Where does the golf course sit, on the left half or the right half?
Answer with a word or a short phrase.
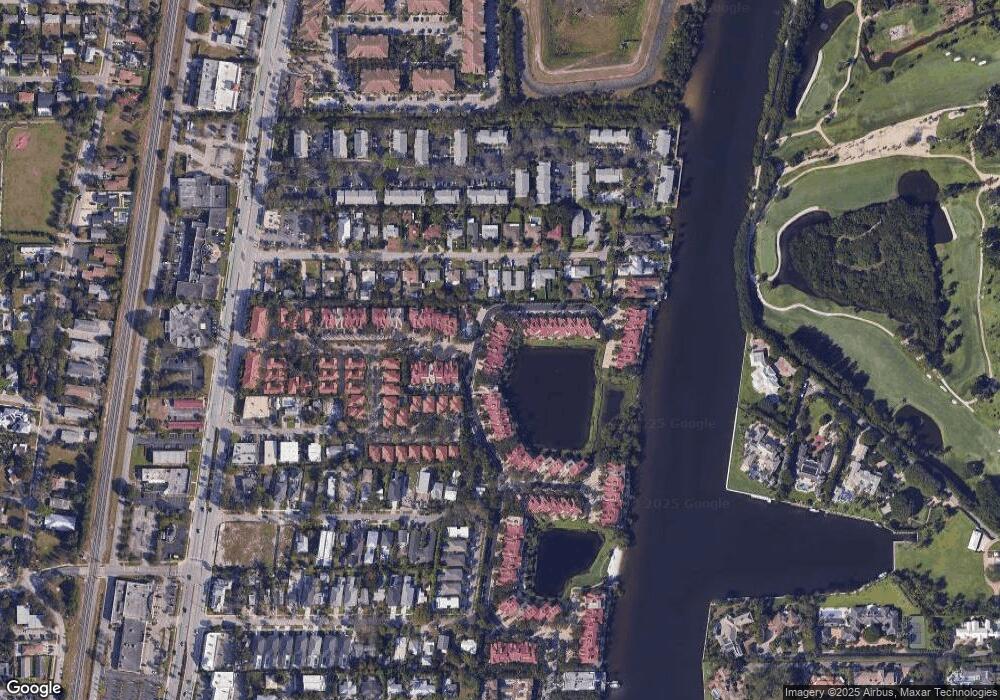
right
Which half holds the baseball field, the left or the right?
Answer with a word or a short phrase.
left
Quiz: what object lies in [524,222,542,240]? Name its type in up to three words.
house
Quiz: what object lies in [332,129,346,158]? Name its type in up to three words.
building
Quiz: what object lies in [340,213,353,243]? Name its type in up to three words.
house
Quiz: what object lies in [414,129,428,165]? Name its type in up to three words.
building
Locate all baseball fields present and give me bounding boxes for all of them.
[0,124,64,231]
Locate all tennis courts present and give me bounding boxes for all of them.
[910,616,927,649]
